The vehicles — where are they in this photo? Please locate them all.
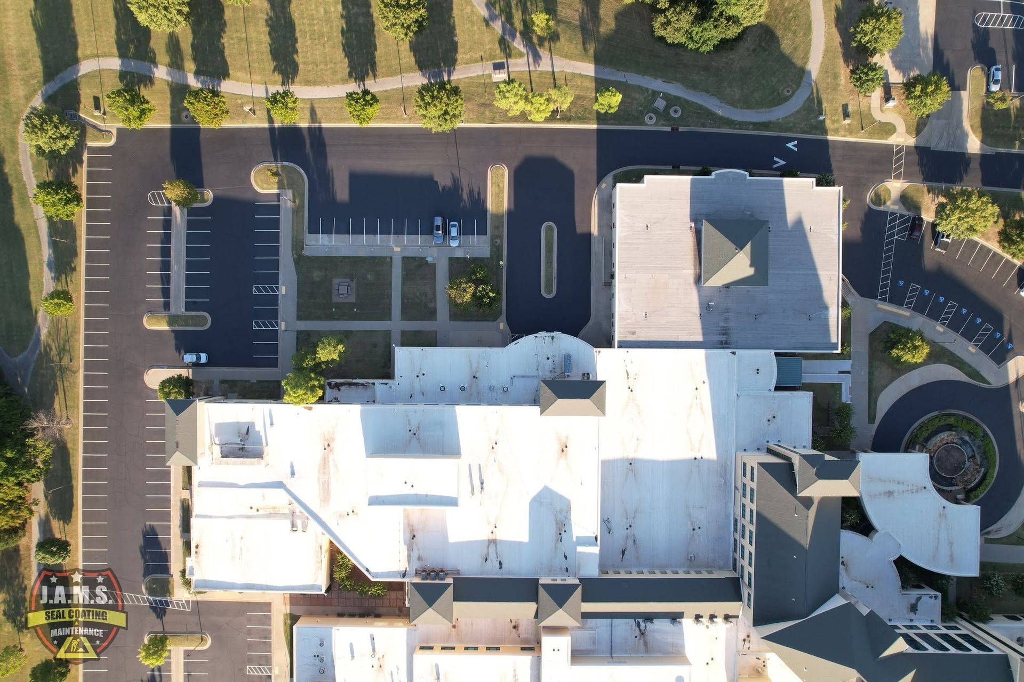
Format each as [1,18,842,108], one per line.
[908,215,924,240]
[934,232,951,254]
[182,352,209,364]
[433,218,443,243]
[986,65,1000,92]
[449,221,460,246]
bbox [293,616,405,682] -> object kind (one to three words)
building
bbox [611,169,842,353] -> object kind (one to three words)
building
